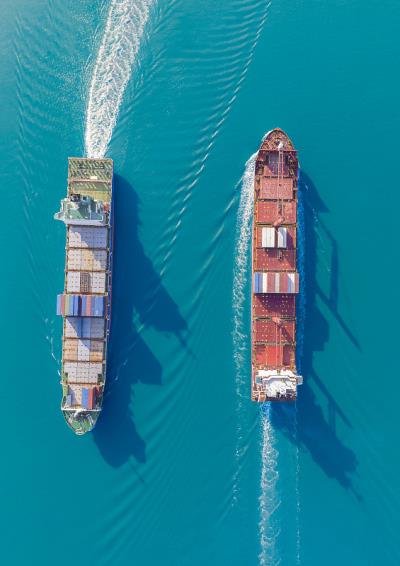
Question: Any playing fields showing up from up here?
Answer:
No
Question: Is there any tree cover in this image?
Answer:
No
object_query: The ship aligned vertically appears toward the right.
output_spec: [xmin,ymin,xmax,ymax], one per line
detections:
[251,127,305,407]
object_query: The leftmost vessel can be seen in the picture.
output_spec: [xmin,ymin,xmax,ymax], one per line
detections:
[52,156,115,436]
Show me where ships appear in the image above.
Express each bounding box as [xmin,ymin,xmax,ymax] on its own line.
[52,156,115,436]
[251,127,305,407]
